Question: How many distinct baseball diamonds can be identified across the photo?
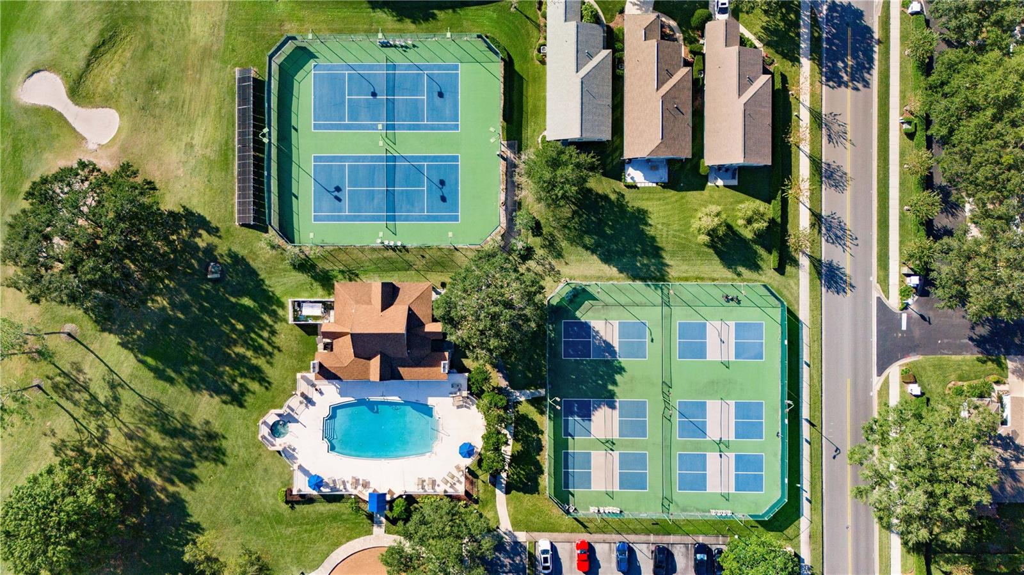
zero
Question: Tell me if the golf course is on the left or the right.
left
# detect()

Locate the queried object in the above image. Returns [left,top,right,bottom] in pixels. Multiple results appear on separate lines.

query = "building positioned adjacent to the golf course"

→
[310,281,451,384]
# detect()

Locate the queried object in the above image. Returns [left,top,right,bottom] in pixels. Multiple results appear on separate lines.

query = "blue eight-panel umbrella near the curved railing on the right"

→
[459,442,476,459]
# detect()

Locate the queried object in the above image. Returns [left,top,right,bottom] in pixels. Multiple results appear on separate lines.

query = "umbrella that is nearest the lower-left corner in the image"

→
[307,474,324,491]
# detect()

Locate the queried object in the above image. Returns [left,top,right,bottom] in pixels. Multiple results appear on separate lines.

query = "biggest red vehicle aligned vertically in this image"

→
[575,540,590,573]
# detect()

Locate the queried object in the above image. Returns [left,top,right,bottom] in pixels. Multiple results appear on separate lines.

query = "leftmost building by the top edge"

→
[546,0,613,141]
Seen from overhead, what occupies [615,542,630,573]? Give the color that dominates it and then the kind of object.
blue car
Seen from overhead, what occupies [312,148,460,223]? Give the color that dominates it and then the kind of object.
blue tennis court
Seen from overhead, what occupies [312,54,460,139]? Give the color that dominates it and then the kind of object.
blue tennis court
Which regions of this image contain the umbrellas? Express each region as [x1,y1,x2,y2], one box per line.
[459,442,476,459]
[307,474,324,491]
